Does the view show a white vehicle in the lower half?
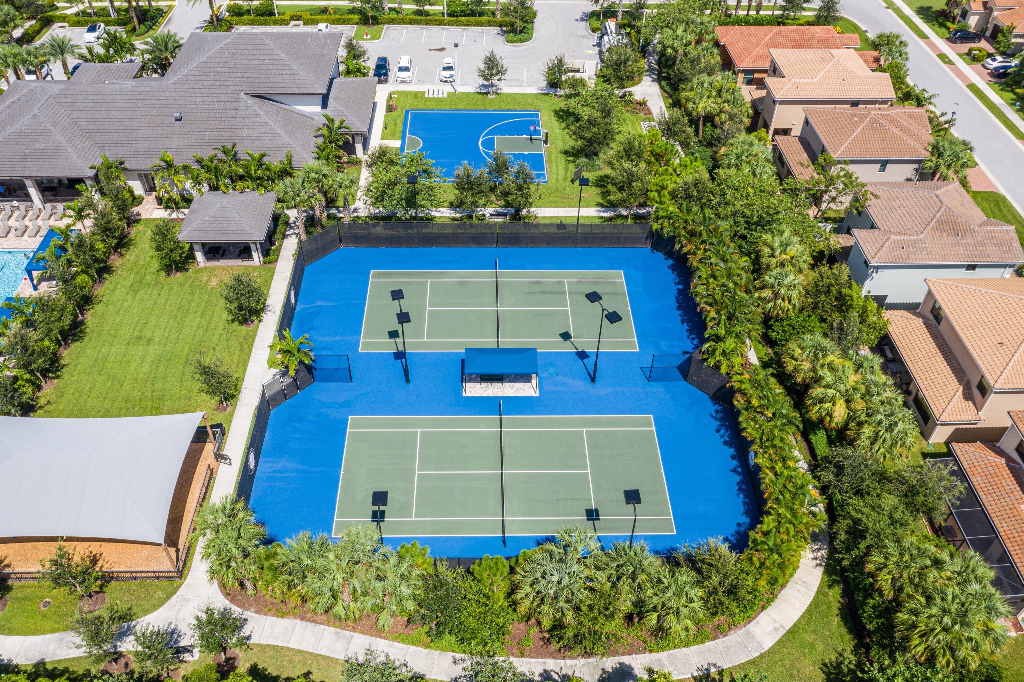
No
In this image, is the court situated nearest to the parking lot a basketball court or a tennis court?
basketball court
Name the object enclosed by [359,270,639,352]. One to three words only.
tennis court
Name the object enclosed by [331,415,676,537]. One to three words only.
tennis court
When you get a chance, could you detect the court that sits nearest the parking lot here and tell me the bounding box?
[398,109,548,183]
